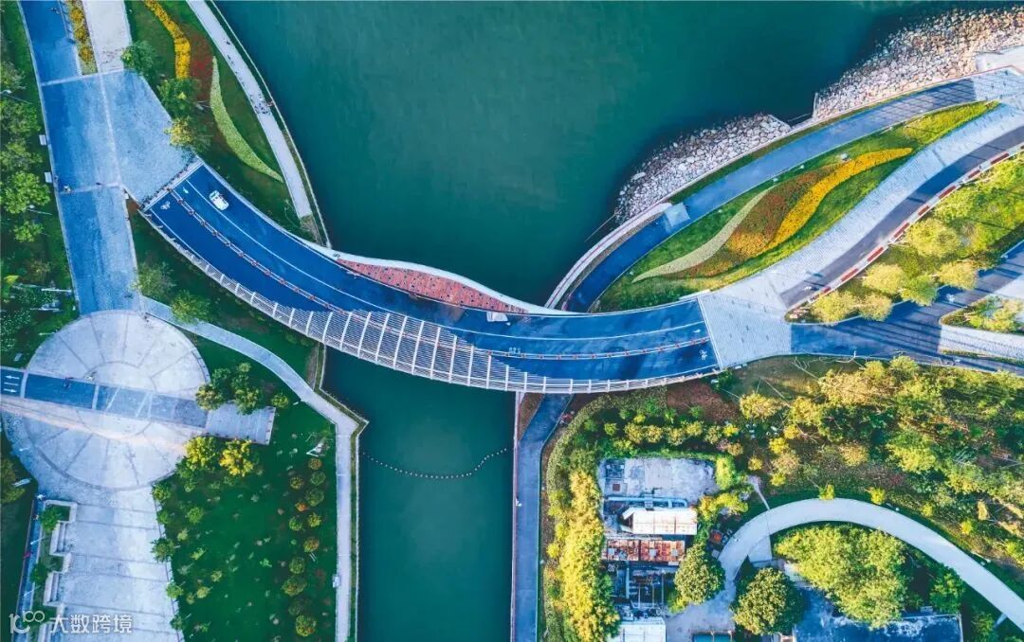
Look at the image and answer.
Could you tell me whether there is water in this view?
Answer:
Yes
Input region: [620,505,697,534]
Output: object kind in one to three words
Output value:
shed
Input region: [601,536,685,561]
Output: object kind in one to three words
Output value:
shed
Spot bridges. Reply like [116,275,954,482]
[142,159,728,395]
